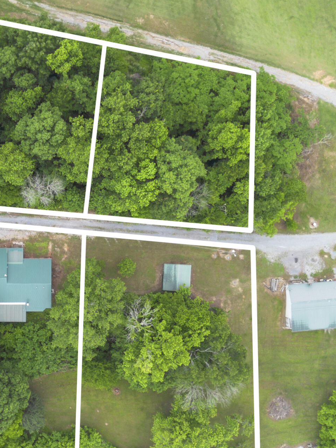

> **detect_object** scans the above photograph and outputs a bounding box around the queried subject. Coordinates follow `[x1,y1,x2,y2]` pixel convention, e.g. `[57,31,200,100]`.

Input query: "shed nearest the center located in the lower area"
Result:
[162,263,192,291]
